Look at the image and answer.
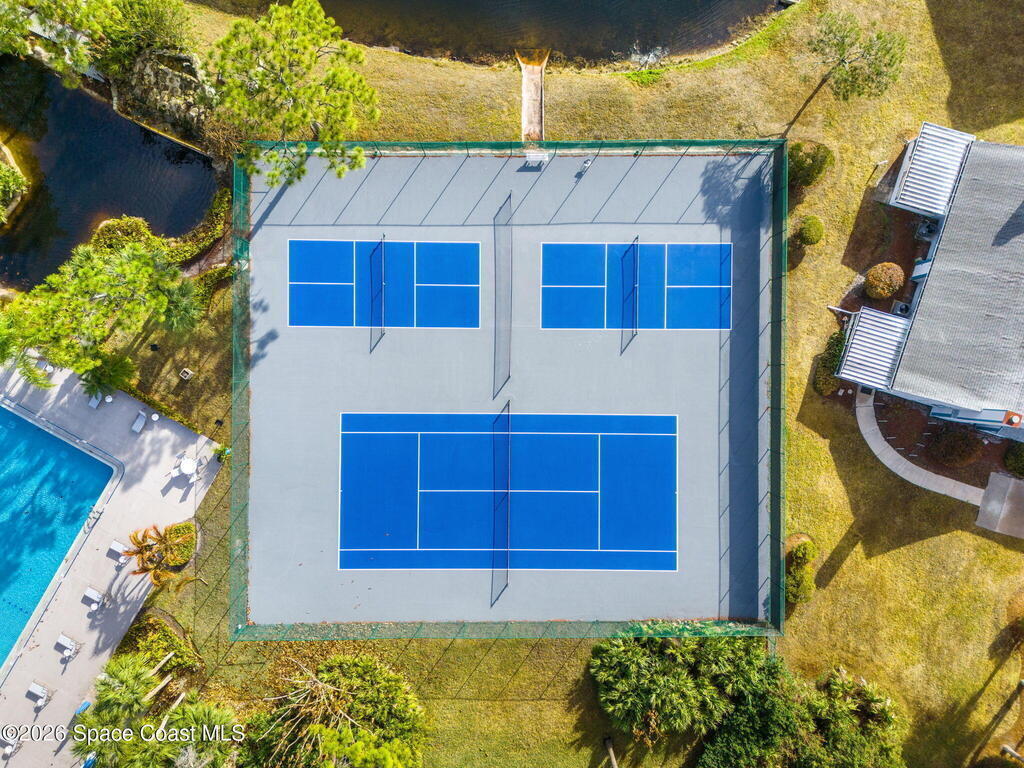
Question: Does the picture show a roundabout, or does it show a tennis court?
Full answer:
It is a tennis court that can be seen here.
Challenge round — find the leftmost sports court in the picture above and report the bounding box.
[289,240,480,328]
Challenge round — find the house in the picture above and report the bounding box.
[834,120,1024,453]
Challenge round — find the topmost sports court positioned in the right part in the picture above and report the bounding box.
[541,242,732,330]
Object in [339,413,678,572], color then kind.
blue tennis court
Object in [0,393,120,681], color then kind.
blue swimming pool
